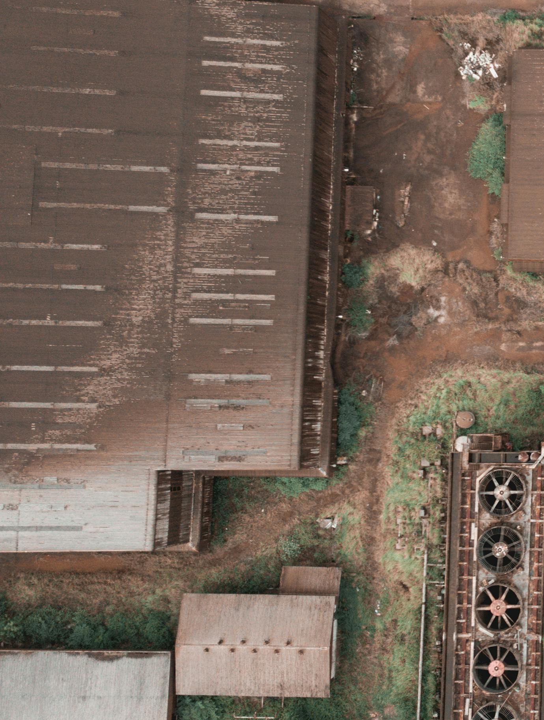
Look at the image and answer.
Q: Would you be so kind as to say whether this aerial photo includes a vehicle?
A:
No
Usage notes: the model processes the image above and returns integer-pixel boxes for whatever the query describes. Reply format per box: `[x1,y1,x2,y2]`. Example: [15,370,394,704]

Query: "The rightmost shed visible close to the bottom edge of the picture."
[175,563,348,699]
